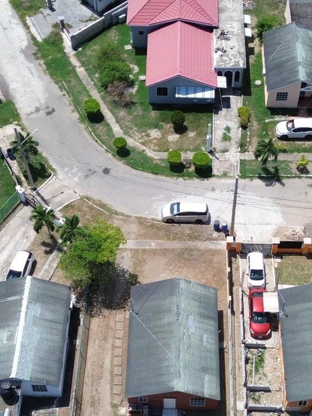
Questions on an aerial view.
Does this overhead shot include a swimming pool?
No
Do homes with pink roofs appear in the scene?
Yes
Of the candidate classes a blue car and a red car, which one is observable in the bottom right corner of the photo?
red car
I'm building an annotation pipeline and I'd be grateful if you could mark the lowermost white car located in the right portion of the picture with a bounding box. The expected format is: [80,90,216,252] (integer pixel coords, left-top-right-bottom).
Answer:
[245,251,269,294]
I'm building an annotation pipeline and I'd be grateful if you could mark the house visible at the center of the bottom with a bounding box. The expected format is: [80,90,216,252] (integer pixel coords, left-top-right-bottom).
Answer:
[127,275,219,416]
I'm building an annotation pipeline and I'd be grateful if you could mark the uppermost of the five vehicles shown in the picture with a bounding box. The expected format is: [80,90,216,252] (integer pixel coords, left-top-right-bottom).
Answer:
[275,120,312,142]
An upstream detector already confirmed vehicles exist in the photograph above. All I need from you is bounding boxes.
[2,245,37,282]
[275,120,312,142]
[161,203,211,226]
[245,251,269,294]
[249,294,274,343]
